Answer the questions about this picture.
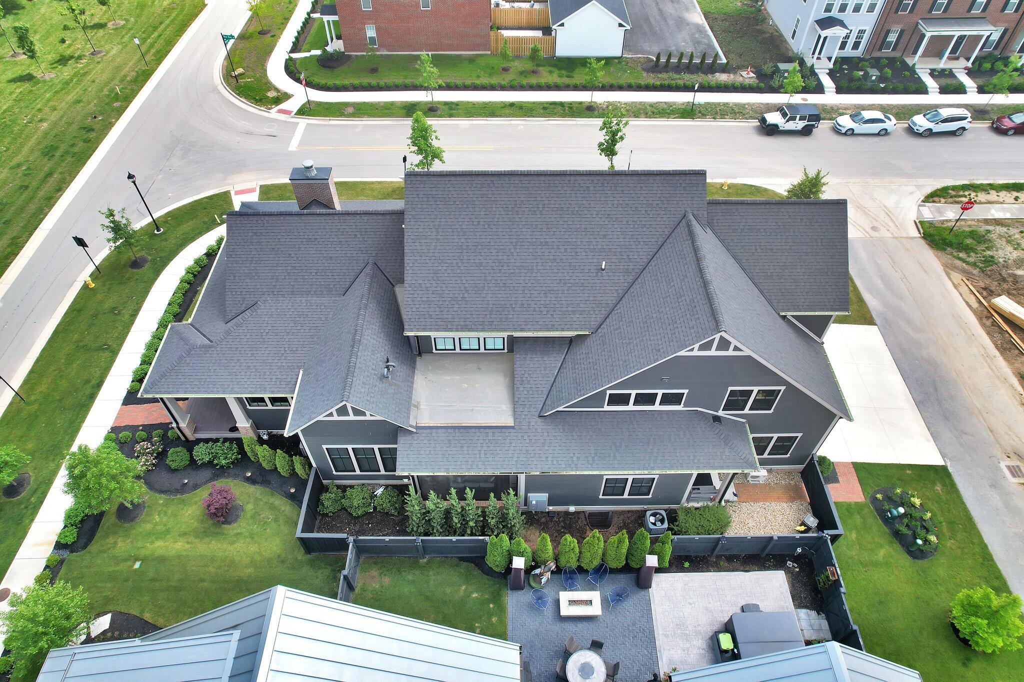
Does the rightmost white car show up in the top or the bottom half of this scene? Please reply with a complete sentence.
The rightmost white car sits in the top half of the picture.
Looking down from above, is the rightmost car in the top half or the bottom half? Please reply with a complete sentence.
The top half of the photo is where the rightmost car is.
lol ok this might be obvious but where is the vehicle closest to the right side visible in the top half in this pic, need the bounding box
[985,105,1024,135]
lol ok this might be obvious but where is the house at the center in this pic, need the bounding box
[138,156,856,515]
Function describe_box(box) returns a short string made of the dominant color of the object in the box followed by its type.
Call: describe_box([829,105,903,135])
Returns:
white car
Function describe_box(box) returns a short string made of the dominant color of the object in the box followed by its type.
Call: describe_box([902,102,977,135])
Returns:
white car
